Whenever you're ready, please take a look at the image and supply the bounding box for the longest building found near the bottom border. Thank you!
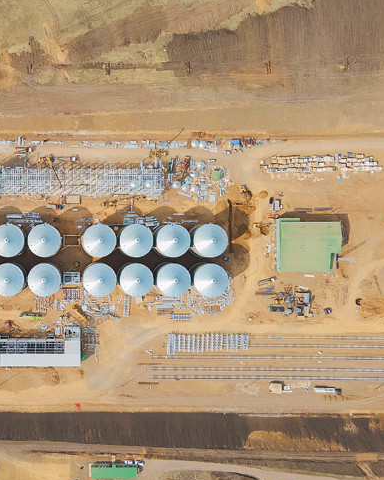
[90,455,137,479]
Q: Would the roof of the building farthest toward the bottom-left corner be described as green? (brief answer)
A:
Yes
